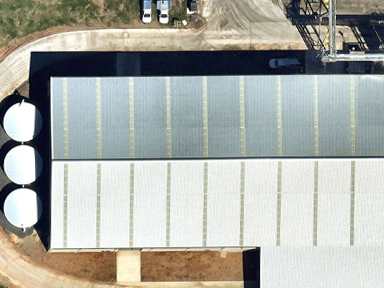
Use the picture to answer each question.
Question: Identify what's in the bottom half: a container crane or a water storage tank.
water storage tank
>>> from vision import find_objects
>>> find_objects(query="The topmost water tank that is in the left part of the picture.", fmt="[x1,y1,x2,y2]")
[2,91,43,144]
